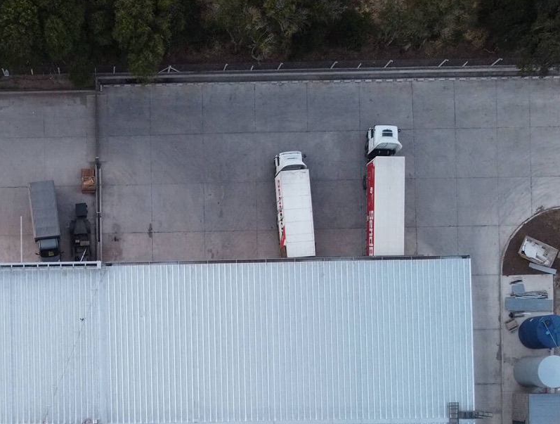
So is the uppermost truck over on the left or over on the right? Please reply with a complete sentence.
The uppermost truck is on the right side of the image.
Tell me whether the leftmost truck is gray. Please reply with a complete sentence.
Yes, gray is the color of the leftmost truck.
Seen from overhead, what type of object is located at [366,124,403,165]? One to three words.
truck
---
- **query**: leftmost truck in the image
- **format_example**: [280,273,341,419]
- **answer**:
[29,178,66,263]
